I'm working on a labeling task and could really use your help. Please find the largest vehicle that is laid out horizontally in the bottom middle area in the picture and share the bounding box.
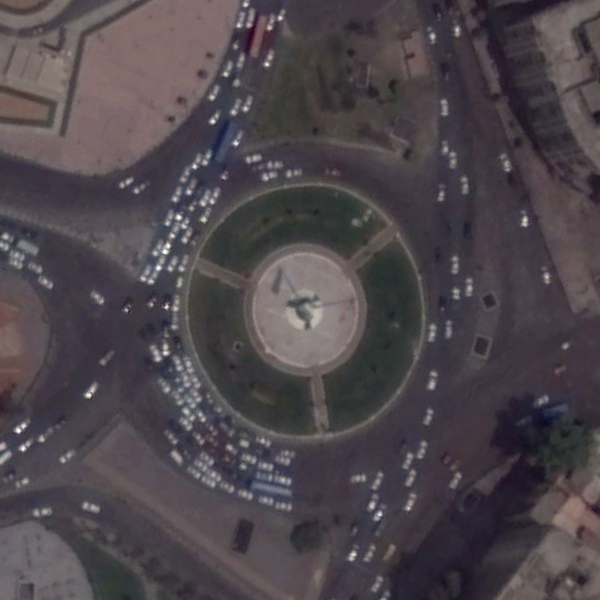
[247,480,291,497]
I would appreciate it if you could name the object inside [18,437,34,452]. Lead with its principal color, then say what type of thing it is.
white car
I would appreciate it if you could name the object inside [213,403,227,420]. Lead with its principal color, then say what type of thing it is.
gray car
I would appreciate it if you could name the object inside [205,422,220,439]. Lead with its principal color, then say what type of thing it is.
gray car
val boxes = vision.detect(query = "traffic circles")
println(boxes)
[179,176,430,444]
